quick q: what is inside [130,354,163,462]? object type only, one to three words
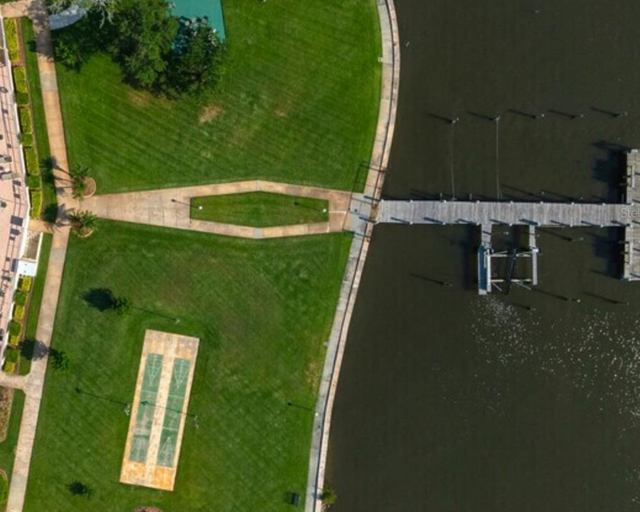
sports court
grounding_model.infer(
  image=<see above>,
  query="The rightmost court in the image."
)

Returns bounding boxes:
[157,357,191,467]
